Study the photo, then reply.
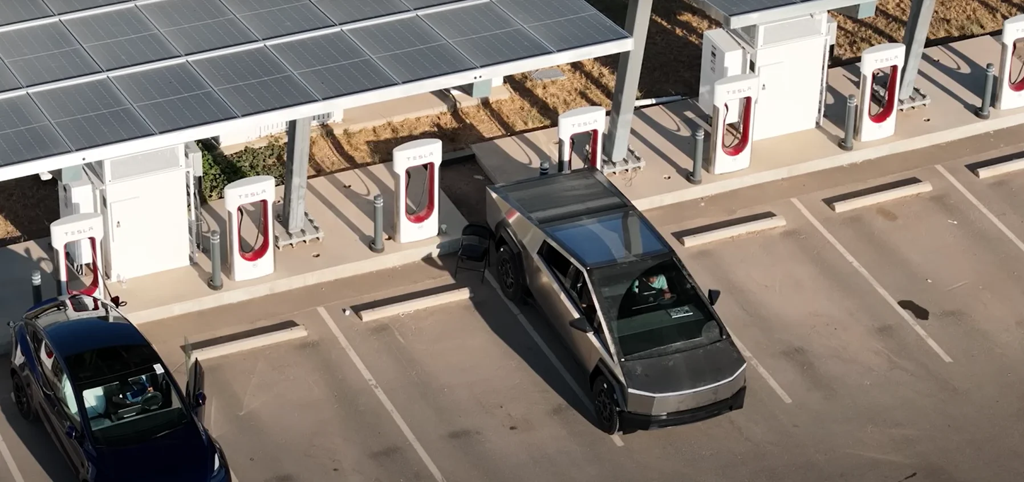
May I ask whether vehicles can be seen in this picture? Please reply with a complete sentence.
Yes, a vehicle is visible in the scene.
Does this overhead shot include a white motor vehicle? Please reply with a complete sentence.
No, there appears to be no white motor vehicle in this shot.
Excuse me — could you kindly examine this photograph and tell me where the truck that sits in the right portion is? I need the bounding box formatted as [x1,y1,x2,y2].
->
[486,164,751,439]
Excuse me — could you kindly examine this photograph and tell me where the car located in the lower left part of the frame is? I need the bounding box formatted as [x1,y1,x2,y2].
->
[1,294,233,482]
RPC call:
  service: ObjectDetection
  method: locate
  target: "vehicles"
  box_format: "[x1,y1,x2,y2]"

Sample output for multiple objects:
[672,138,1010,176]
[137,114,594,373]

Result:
[486,164,751,439]
[1,294,233,482]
